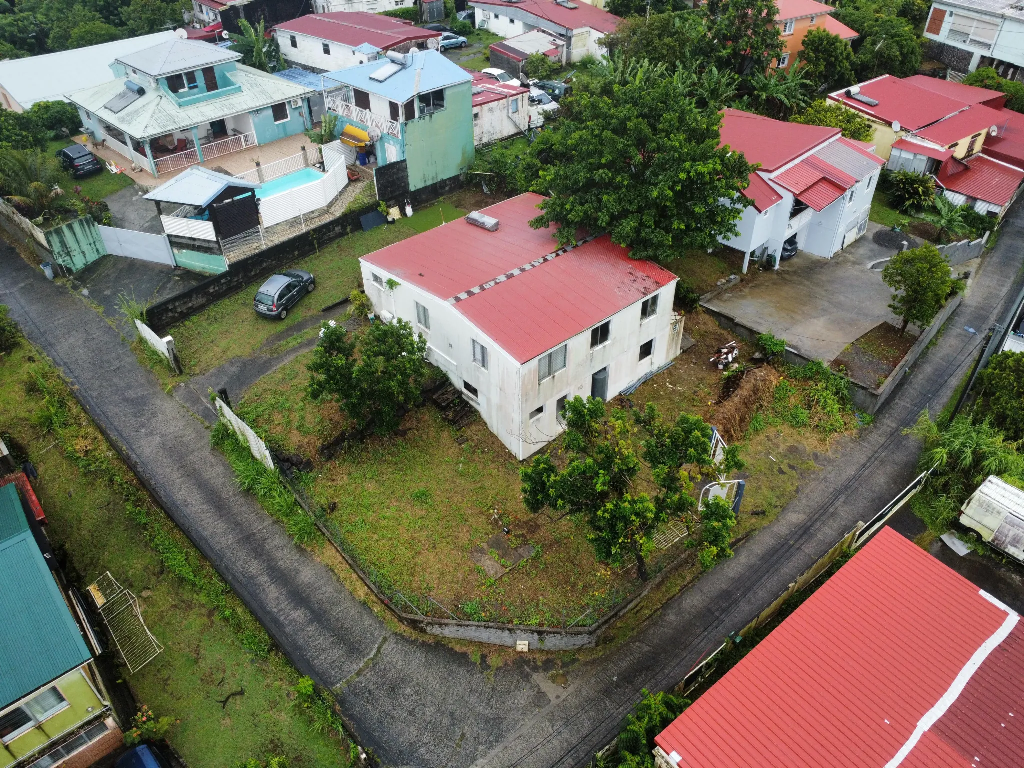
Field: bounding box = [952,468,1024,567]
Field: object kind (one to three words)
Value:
van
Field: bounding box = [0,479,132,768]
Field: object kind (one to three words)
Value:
house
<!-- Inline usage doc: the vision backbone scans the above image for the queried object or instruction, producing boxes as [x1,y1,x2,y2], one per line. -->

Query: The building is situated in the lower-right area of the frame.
[654,525,1024,768]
